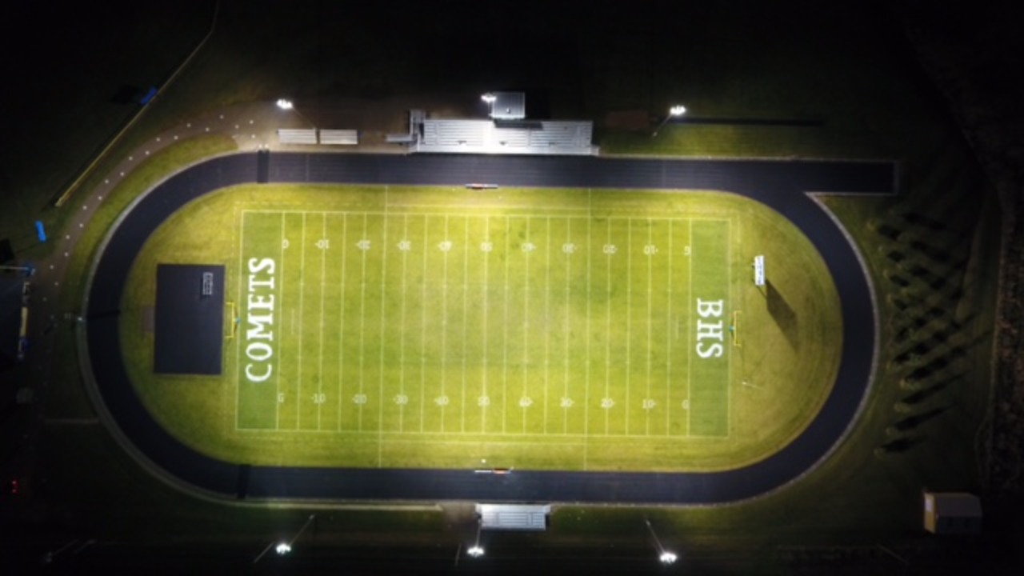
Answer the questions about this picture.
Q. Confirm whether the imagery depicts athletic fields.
Yes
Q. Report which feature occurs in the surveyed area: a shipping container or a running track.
running track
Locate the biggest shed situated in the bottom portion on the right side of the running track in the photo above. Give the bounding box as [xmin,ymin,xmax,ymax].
[927,490,981,533]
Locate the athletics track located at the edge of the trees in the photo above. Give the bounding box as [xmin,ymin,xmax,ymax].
[87,151,895,504]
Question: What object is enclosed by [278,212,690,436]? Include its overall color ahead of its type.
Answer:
yellow sports field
